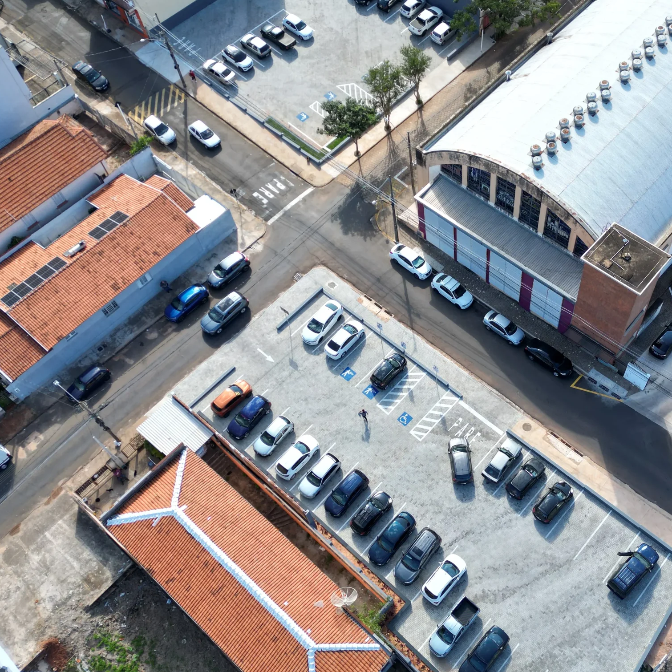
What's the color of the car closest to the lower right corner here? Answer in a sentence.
The color of the car closest to the lower right corner is blue.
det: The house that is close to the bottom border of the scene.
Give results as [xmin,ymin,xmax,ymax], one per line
[107,448,389,672]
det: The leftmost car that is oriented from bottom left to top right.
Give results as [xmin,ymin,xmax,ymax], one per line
[67,364,115,403]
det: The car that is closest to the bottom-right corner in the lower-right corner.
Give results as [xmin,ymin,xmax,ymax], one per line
[610,545,659,600]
